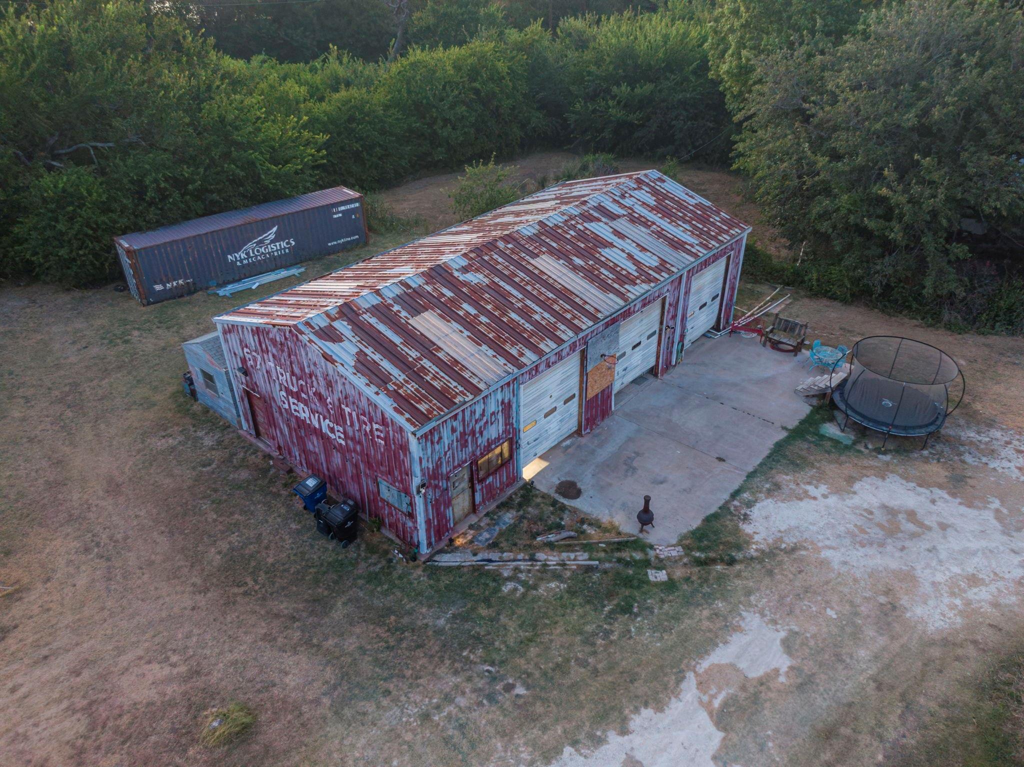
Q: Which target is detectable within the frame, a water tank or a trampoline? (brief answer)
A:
trampoline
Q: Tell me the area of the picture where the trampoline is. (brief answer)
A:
right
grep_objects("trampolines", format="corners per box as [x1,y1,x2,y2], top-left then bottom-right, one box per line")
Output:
[823,335,959,457]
